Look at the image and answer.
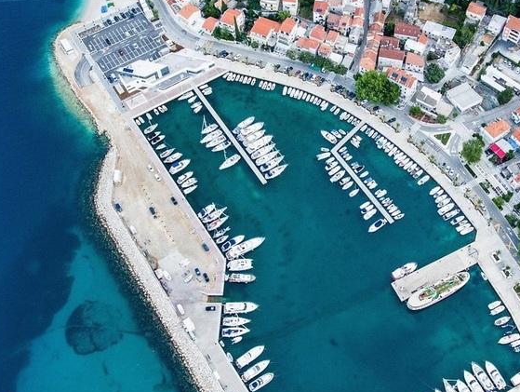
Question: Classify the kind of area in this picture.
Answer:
port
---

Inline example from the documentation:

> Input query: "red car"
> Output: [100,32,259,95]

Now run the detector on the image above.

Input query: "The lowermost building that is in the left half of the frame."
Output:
[117,59,216,93]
